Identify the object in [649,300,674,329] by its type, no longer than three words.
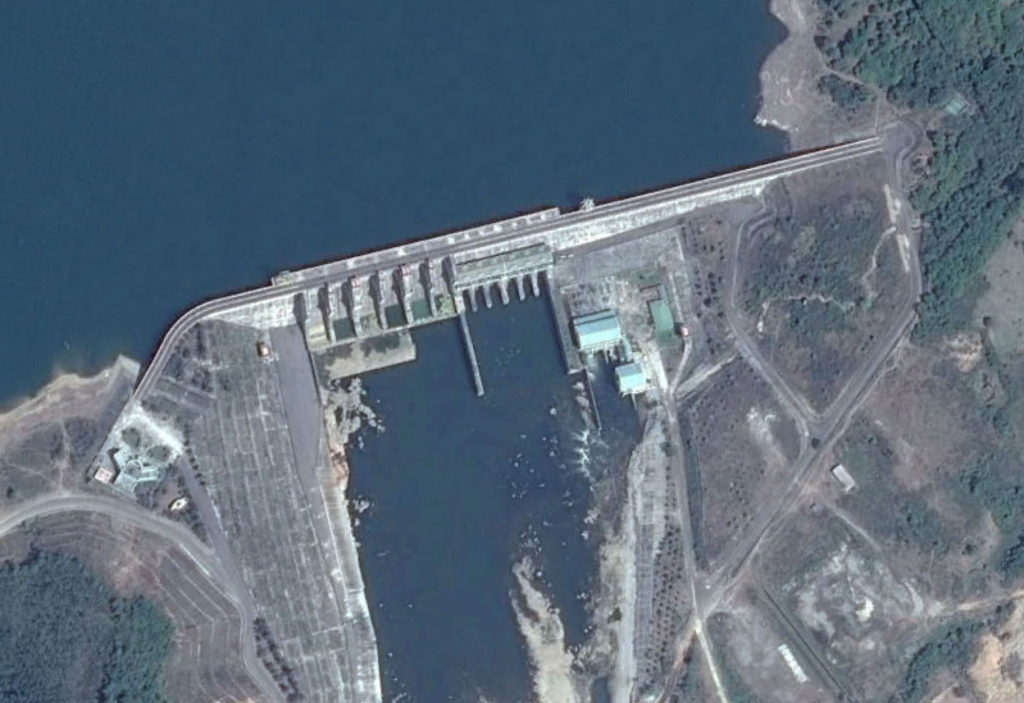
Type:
shed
